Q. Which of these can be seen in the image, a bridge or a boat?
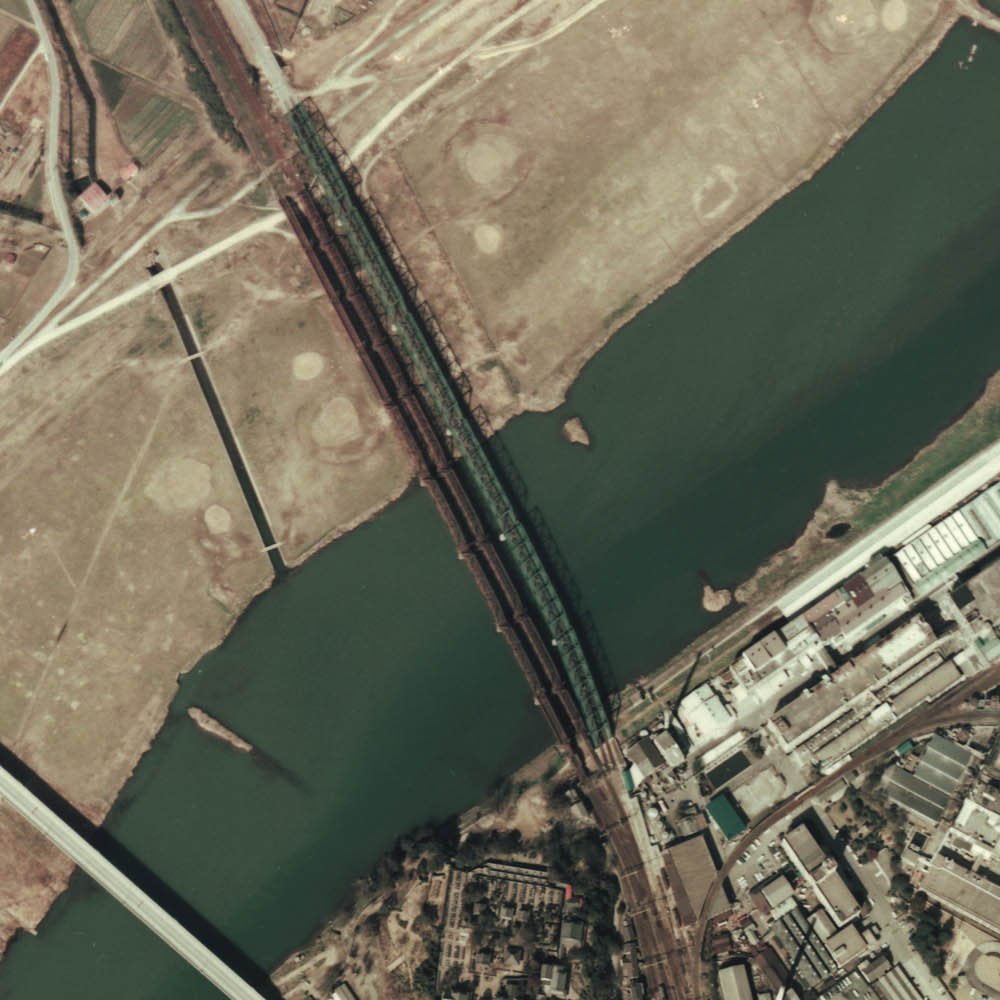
bridge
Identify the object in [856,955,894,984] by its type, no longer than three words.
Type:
building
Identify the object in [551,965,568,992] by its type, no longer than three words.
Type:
house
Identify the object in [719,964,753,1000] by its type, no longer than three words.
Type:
building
